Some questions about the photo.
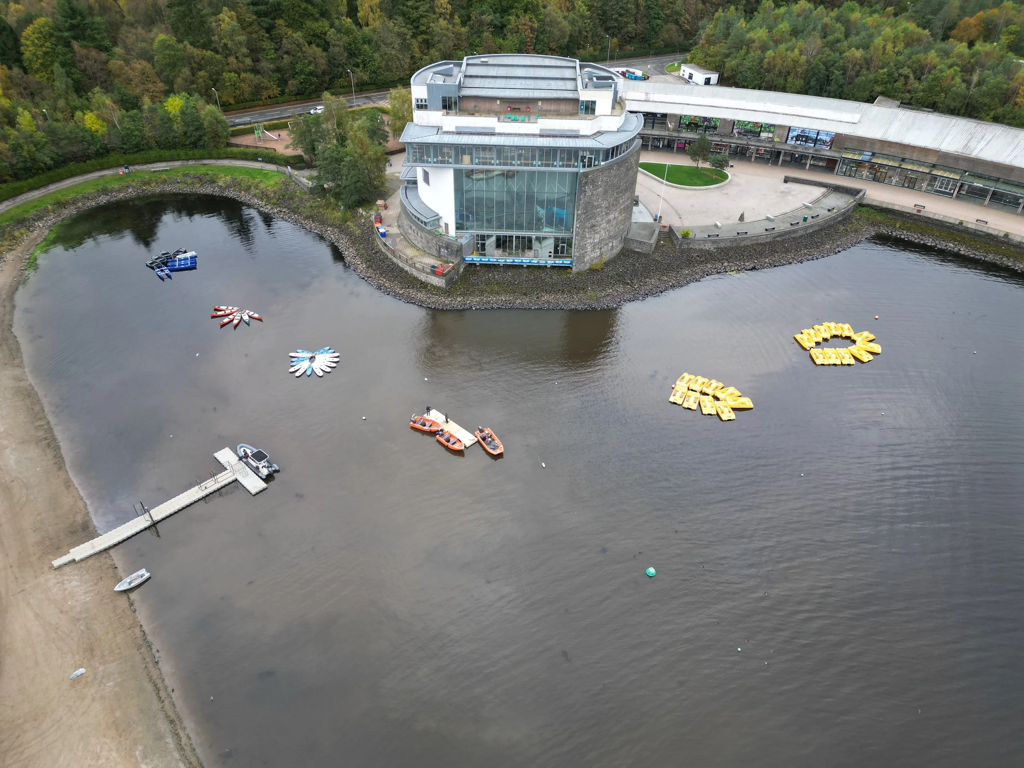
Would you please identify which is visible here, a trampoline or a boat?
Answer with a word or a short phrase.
boat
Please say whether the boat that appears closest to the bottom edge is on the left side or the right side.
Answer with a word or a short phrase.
left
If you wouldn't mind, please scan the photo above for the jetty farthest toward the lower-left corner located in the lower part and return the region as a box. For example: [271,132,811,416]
[54,448,265,572]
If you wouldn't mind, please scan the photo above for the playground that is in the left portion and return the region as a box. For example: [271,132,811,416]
[231,115,408,178]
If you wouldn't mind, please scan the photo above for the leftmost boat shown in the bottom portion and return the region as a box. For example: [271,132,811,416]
[114,569,149,592]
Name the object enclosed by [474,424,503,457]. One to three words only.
boat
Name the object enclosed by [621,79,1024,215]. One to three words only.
building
